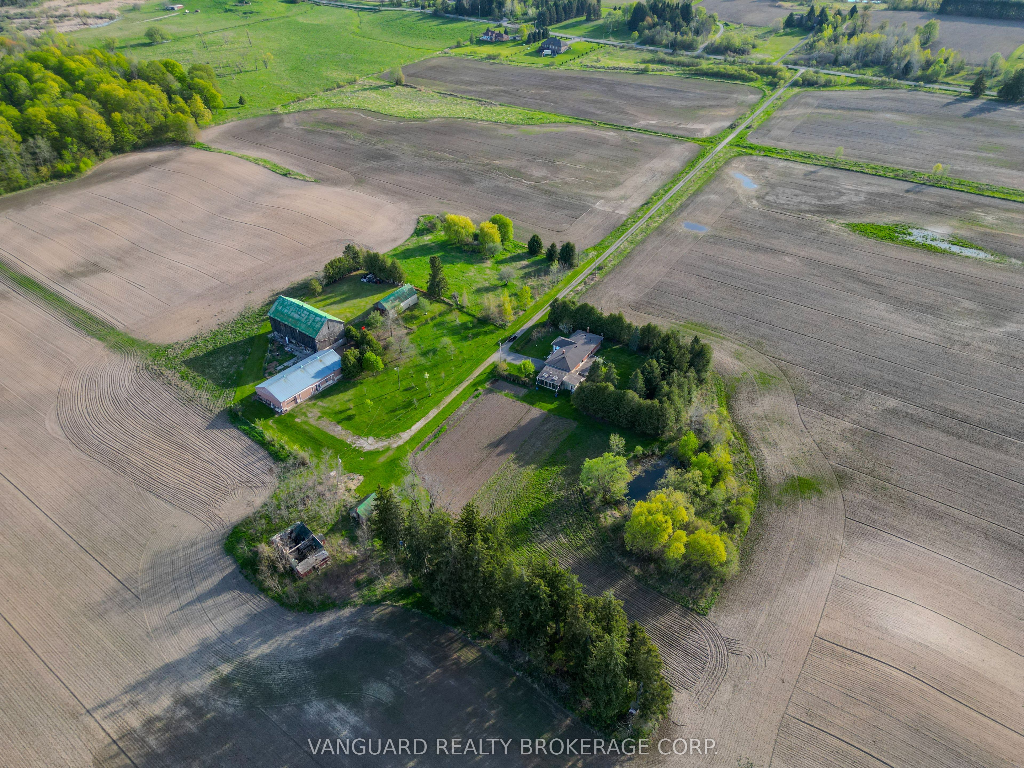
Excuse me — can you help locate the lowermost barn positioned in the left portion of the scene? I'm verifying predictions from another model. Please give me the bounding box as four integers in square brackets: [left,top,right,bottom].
[269,521,334,581]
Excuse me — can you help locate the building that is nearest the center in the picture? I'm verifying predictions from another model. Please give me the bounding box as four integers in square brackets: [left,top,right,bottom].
[533,326,603,391]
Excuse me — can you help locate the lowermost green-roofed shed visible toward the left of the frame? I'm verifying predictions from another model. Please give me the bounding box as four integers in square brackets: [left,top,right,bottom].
[349,490,381,523]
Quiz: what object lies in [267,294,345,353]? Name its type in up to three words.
barn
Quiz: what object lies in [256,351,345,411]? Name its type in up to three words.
shed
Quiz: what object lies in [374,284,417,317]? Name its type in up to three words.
barn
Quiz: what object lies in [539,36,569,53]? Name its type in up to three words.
house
